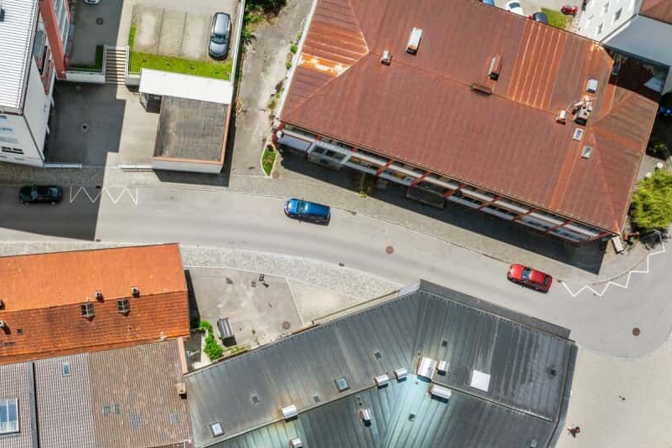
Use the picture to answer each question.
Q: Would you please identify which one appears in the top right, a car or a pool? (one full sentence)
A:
Visible in the top right is a car.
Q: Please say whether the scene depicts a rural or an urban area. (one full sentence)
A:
The land in this view is best described as urban.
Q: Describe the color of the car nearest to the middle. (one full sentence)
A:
The car nearest to the middle looks blue in the image.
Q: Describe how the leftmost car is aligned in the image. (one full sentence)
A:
The leftmost car is oriented from left to right.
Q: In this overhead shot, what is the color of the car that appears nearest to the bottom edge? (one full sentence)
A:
From above, the car that appears nearest to the bottom edge appears red.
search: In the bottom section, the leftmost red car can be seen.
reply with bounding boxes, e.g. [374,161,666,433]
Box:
[503,265,551,291]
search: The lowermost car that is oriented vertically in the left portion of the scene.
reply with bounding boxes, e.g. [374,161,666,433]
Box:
[208,13,231,64]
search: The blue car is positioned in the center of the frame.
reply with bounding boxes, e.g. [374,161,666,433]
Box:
[284,199,330,224]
